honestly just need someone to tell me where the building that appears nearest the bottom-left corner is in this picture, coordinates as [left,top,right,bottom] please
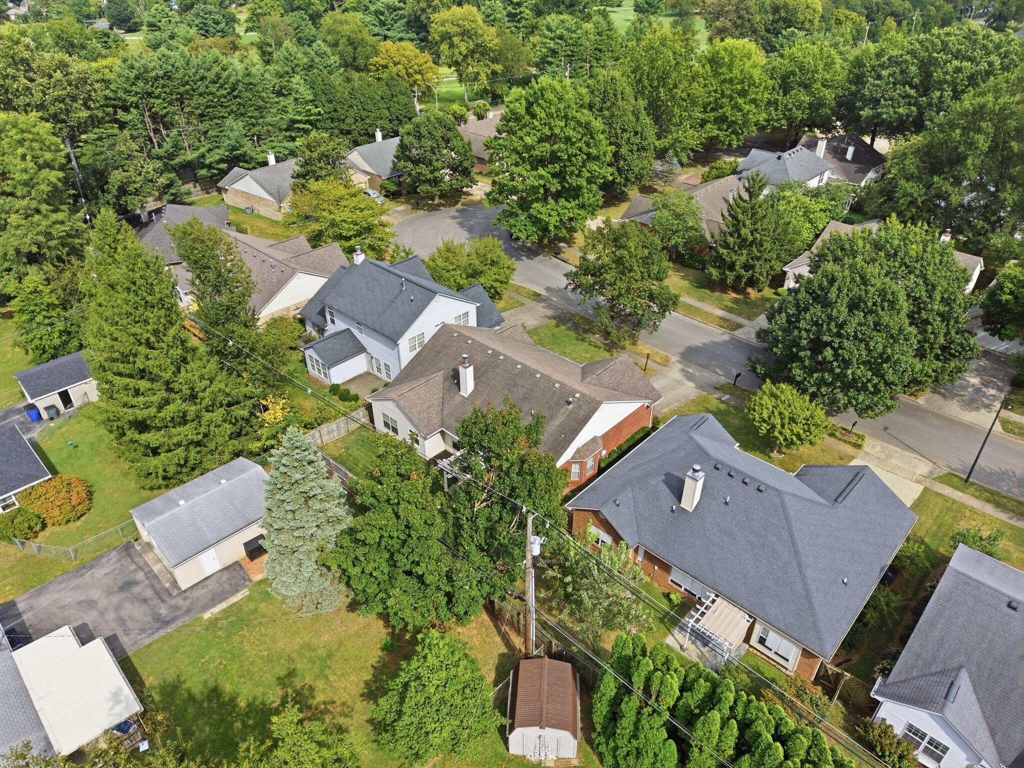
[0,555,161,768]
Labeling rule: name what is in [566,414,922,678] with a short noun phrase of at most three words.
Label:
house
